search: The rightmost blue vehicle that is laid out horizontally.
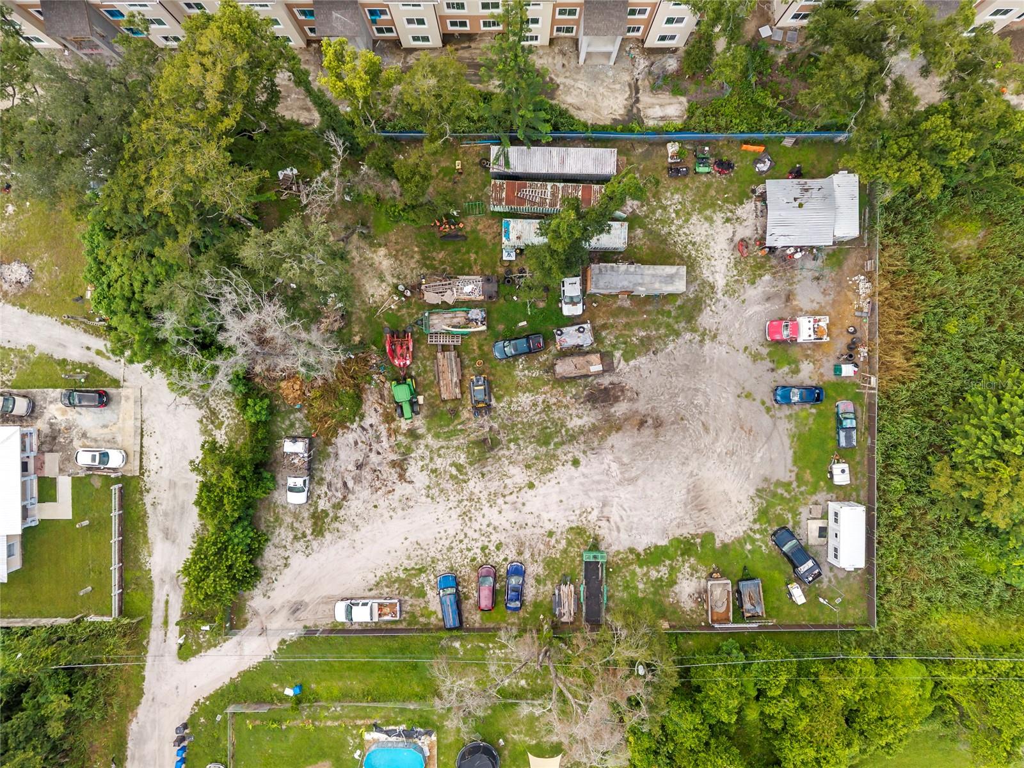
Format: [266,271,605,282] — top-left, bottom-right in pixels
[771,383,824,406]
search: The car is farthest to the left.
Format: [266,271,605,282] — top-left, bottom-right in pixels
[0,393,38,416]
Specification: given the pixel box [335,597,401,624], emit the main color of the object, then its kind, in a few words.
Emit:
white truck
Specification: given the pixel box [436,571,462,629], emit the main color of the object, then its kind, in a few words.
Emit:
blue car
